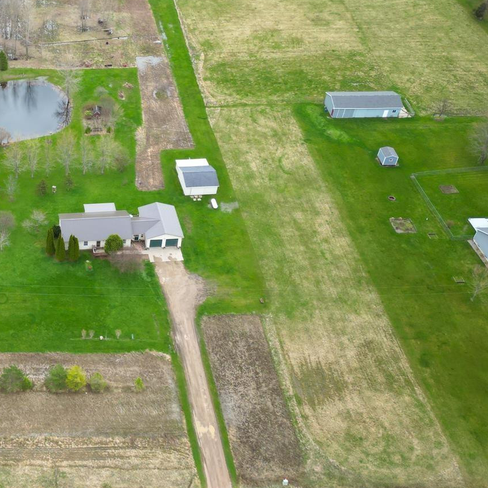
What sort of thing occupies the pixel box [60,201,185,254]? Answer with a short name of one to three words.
house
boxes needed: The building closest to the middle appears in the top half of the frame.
[176,158,219,195]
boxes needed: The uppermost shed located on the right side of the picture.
[324,91,403,117]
